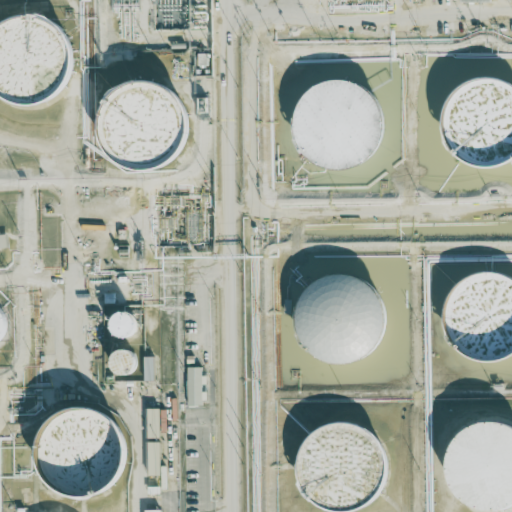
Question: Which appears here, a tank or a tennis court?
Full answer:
Visible in the photo is a tank.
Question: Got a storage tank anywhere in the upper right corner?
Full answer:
Yes, a storage tank appears in the upper right corner.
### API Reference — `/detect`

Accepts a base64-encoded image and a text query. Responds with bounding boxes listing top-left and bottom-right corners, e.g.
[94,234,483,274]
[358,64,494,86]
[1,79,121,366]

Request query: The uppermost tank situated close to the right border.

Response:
[438,76,512,170]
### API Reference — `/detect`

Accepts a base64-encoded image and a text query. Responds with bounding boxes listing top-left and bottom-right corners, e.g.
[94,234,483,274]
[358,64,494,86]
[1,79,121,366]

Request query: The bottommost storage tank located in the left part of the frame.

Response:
[32,404,129,498]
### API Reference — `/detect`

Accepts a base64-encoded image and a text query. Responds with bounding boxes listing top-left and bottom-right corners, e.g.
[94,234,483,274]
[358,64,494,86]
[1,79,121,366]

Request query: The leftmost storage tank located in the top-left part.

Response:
[0,10,74,107]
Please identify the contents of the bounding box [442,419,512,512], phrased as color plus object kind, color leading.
white storage tank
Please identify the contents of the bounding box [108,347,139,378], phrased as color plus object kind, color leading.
white storage tank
